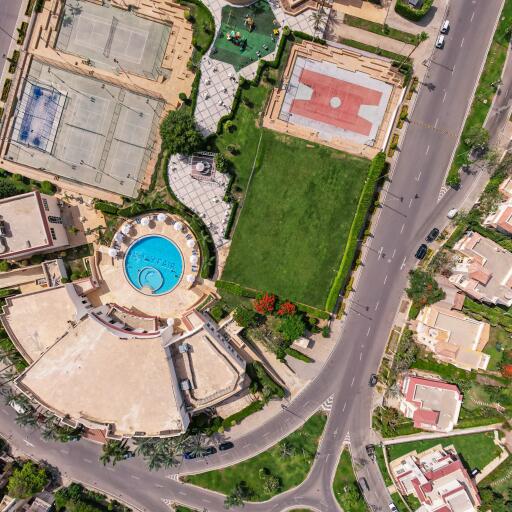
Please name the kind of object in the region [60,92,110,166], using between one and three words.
tennis court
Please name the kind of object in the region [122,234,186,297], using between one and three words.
swimming pool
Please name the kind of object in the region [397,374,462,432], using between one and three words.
house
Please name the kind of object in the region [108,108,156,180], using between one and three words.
tennis court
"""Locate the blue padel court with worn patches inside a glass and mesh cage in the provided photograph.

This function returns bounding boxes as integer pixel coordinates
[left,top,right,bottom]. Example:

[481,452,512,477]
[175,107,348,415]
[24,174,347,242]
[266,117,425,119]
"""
[7,78,66,152]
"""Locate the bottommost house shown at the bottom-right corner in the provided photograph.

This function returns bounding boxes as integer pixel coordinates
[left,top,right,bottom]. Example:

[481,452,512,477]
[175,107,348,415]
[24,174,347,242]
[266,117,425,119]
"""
[388,439,482,512]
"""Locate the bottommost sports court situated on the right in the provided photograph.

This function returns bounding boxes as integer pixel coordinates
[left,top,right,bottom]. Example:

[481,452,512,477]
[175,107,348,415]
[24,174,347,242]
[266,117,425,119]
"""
[278,57,393,146]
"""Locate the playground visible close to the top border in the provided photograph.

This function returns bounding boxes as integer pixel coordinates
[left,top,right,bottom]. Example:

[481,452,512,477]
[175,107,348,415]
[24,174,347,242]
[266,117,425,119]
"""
[210,0,280,72]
